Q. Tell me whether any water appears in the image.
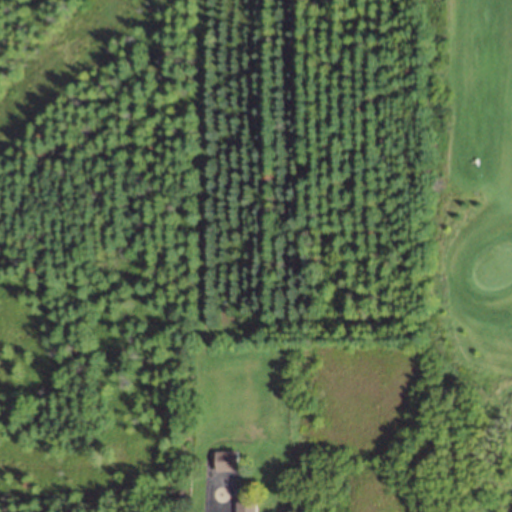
No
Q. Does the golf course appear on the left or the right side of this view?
right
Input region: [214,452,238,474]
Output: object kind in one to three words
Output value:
building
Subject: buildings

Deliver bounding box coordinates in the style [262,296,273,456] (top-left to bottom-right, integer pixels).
[214,452,238,474]
[236,502,259,512]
